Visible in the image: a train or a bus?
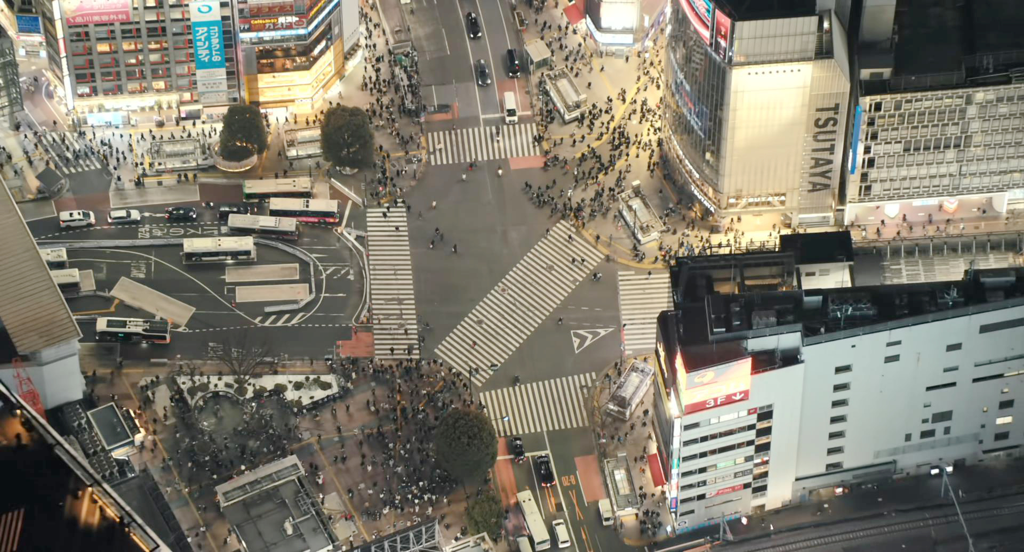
bus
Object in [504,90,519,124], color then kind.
white vehicle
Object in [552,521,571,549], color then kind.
white car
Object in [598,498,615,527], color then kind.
white vehicle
